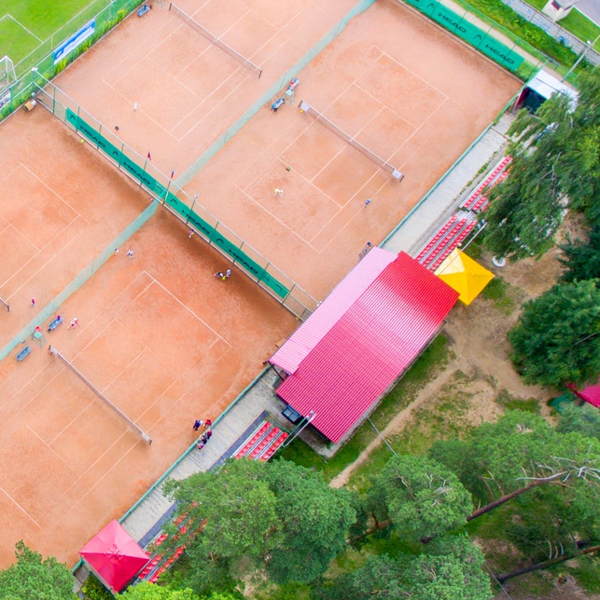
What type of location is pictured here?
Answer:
sports ground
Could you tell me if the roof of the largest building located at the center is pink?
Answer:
Yes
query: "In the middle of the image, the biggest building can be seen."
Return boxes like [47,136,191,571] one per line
[263,246,460,461]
